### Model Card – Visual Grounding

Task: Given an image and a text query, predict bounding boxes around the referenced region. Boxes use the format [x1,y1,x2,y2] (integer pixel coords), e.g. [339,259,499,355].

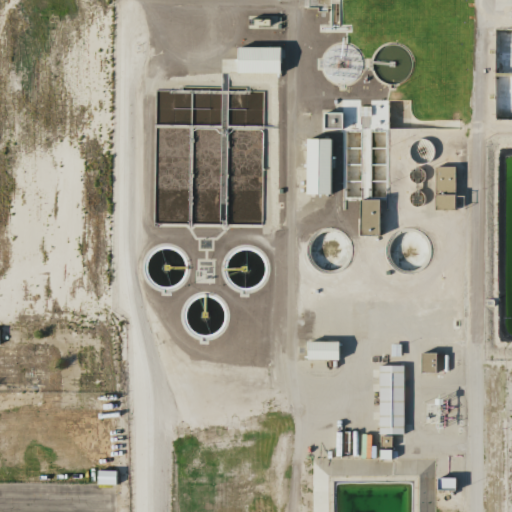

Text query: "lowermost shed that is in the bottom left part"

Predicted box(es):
[96,470,117,488]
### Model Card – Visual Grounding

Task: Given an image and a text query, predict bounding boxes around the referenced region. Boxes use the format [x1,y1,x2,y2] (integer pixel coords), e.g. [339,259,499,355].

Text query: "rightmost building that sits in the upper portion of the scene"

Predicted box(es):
[436,166,457,210]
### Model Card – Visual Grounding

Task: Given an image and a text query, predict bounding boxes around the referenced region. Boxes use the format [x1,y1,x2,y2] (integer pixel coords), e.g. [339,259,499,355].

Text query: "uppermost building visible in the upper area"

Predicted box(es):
[237,46,282,72]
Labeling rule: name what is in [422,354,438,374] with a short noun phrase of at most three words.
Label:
building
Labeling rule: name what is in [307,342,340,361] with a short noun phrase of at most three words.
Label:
shed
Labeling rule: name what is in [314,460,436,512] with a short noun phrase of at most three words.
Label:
pond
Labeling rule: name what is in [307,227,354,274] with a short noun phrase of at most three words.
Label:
storage tank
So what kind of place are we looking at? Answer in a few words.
industrial area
